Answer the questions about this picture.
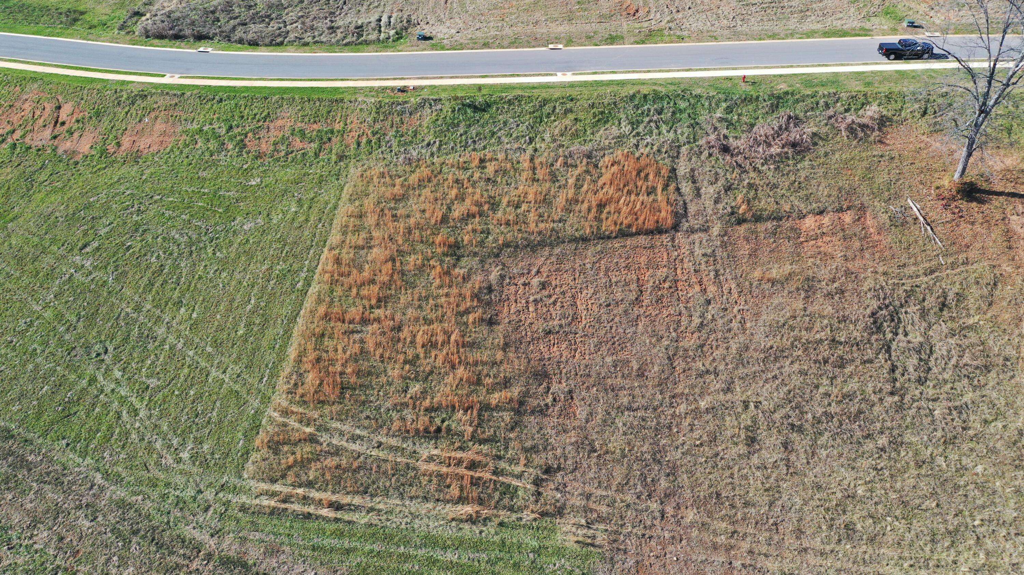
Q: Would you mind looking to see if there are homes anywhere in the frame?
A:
No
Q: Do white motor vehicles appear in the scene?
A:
No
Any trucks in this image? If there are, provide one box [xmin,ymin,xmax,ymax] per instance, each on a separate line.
[874,35,934,59]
